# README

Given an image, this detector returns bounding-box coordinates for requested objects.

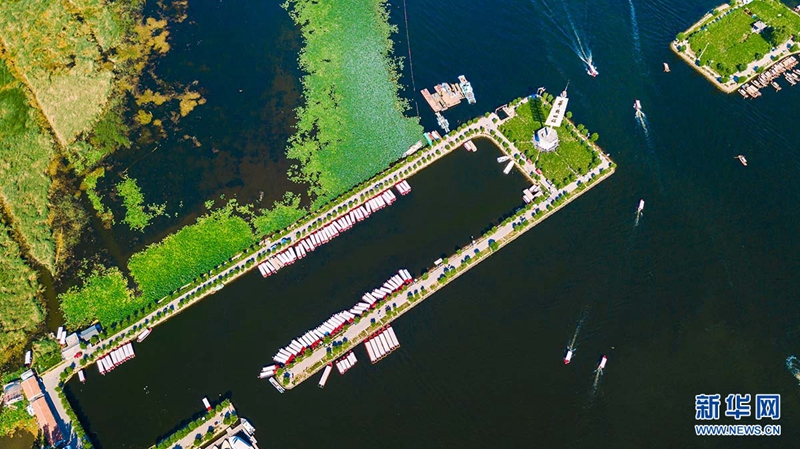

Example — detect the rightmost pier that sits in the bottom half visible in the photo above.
[277,178,593,390]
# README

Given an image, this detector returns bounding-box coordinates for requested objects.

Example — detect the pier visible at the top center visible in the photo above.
[421,88,463,112]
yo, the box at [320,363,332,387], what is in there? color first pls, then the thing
white boat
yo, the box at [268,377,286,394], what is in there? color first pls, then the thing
white boat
